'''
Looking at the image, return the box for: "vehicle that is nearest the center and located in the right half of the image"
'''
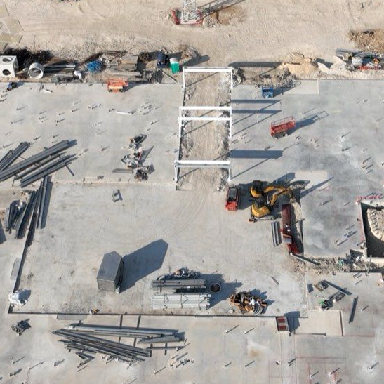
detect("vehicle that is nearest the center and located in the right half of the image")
[223,185,239,212]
